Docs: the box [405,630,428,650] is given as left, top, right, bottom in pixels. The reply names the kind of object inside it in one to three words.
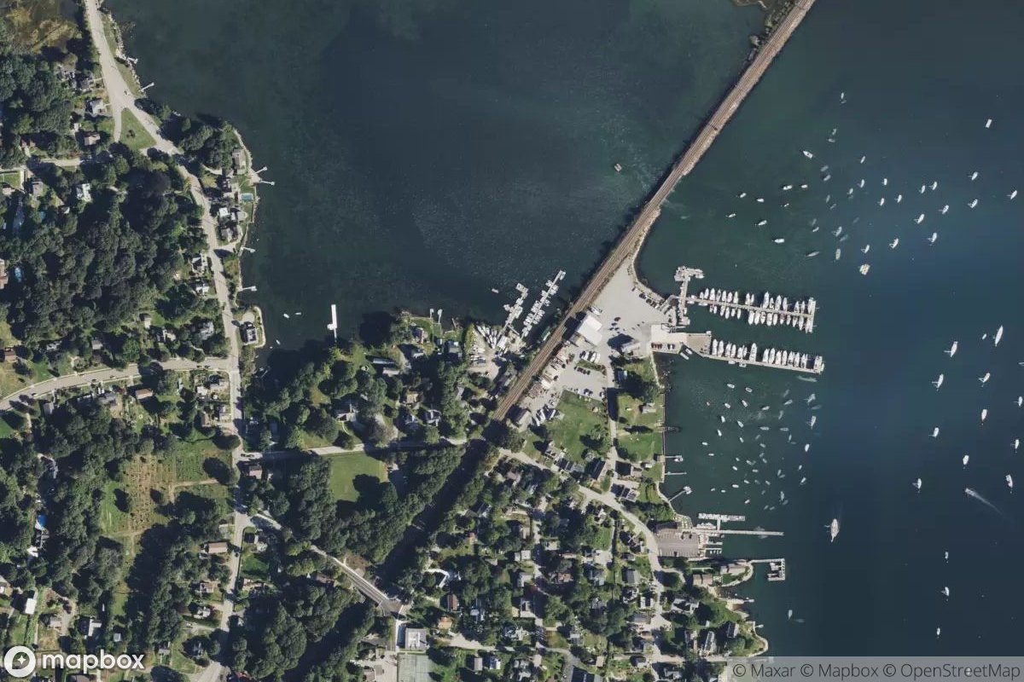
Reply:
building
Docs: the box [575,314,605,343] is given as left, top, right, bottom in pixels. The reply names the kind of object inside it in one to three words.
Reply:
shed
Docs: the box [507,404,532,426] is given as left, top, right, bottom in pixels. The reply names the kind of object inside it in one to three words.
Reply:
barn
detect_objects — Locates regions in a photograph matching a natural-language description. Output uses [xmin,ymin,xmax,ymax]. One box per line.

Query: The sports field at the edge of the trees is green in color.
[328,452,387,503]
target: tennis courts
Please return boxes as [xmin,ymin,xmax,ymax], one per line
[396,655,433,682]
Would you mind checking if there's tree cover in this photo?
Yes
